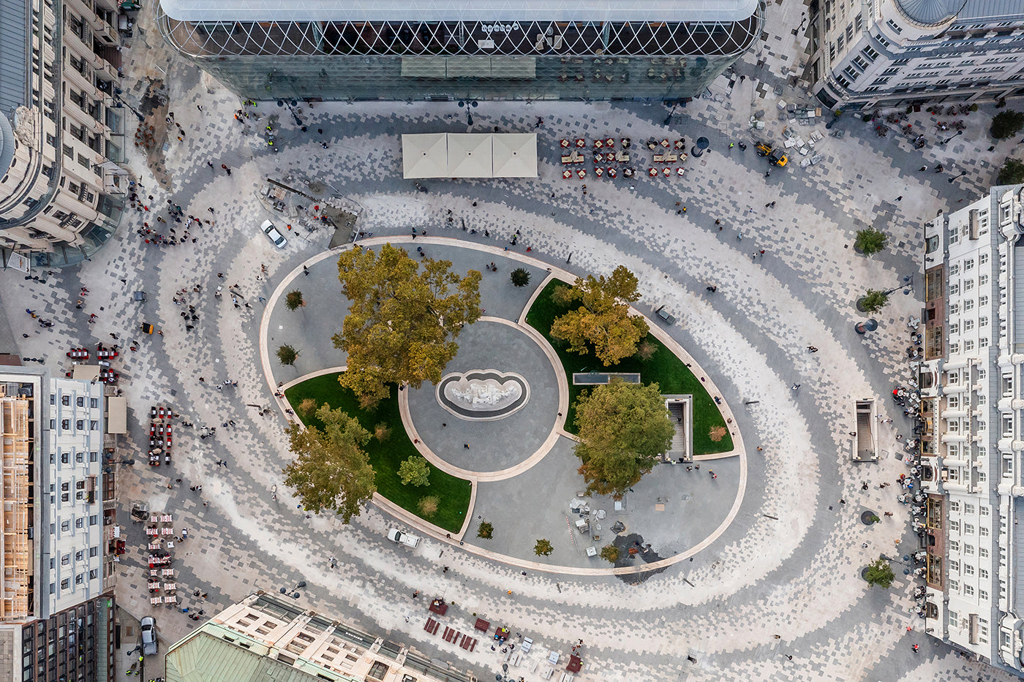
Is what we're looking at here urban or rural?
urban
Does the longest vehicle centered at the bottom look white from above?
Yes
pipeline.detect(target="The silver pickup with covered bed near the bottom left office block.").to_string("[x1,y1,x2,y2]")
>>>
[138,613,159,657]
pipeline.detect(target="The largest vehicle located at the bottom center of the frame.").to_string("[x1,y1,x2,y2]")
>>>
[386,527,423,551]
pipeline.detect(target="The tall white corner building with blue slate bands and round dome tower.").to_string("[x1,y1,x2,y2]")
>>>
[808,0,1024,110]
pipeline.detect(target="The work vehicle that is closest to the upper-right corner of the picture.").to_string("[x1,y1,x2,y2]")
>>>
[749,141,789,166]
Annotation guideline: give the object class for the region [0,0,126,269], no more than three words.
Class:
building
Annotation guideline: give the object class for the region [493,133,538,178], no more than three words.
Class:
umbrella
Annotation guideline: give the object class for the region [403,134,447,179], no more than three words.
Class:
umbrella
